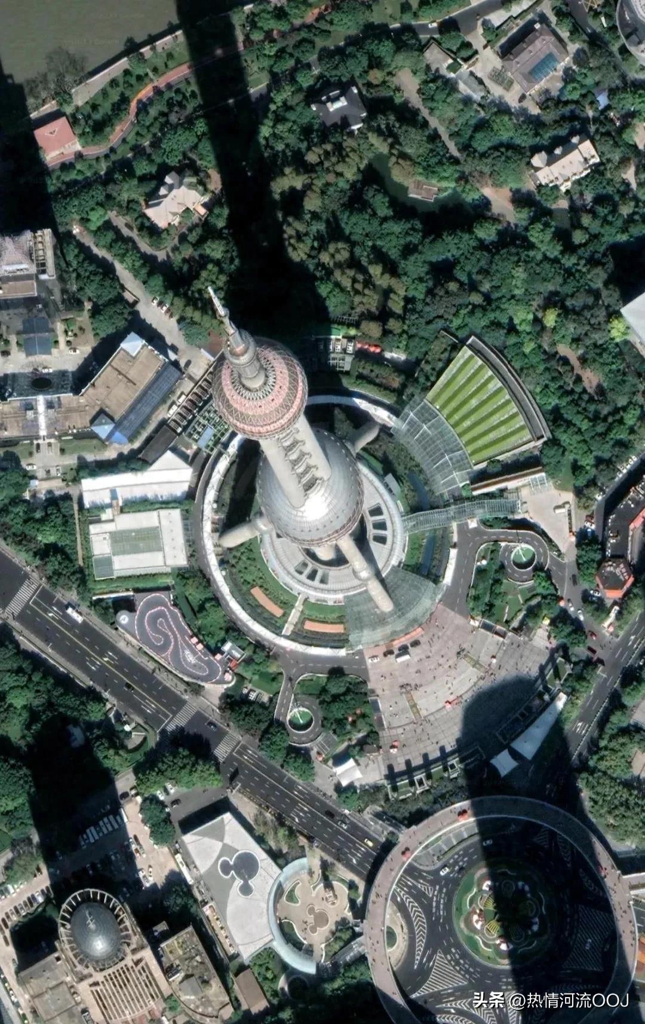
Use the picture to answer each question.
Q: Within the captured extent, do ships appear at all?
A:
No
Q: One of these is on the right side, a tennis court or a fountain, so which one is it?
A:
fountain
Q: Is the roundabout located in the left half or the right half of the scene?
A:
right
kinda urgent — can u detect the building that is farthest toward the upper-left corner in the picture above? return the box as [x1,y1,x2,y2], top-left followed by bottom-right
[34,117,78,159]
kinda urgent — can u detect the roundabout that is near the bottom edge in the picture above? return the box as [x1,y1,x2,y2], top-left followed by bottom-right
[385,815,616,1024]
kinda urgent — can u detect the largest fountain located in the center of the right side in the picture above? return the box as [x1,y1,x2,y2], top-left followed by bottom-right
[511,542,536,569]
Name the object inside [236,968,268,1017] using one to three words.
shed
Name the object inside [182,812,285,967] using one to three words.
building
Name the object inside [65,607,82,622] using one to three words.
vehicle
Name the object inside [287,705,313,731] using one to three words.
fountain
